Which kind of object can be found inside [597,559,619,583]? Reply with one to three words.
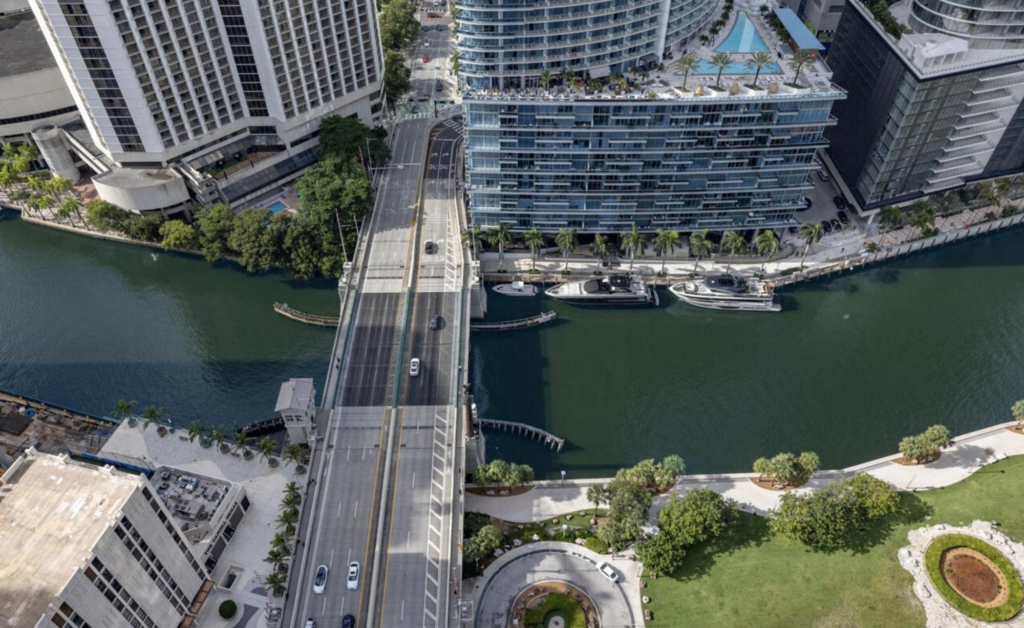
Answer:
car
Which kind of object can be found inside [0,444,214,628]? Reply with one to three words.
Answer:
building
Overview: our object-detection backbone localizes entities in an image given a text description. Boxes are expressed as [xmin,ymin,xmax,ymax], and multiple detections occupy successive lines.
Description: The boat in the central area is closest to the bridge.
[495,283,540,298]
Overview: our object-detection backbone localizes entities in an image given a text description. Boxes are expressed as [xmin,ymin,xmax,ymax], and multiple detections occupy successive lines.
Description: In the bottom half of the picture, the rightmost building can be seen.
[270,376,313,454]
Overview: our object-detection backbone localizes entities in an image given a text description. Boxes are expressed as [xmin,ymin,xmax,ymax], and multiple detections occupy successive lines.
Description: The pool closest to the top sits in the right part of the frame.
[714,11,771,53]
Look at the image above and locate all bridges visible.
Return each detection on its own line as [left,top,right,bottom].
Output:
[268,119,489,628]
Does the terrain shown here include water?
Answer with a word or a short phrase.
Yes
